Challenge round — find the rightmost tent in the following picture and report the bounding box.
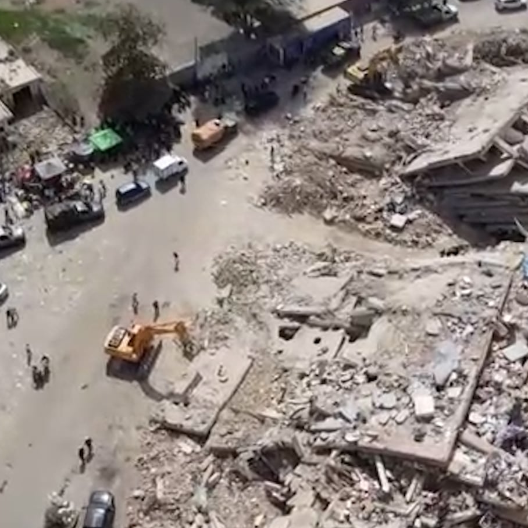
[88,129,124,166]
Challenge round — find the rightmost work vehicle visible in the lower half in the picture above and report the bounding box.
[101,336,192,379]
